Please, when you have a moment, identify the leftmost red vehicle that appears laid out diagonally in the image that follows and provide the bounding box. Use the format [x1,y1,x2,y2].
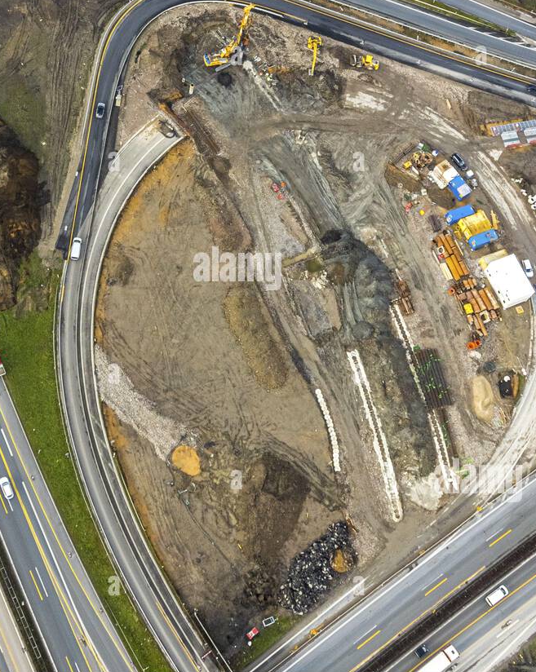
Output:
[244,626,260,641]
